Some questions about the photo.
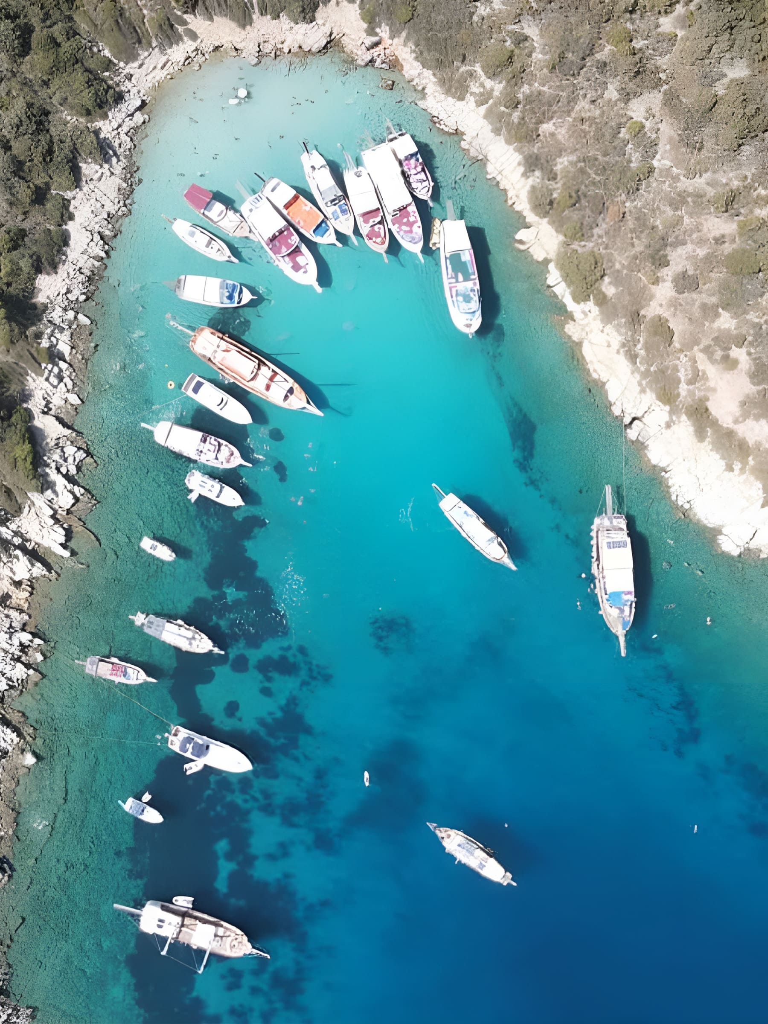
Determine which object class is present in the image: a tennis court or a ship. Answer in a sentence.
Of the two, only a ship appears.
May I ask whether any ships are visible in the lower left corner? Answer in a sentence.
Yes, the scene does show a ship in the lower left corner.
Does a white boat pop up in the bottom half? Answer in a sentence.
Yes, looking in the bottom half, one can make out a white boat.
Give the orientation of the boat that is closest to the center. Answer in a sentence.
The boat that is closest to the center runs diagonally in the image.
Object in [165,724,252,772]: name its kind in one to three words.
boat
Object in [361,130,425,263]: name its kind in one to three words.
boat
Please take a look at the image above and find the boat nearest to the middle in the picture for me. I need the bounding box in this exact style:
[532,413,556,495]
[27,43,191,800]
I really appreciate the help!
[433,484,518,570]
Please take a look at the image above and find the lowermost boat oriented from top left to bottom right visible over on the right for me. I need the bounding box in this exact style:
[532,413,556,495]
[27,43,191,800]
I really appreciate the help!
[426,822,517,886]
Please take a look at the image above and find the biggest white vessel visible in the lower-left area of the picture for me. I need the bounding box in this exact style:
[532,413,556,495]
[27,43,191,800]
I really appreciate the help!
[113,898,270,972]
